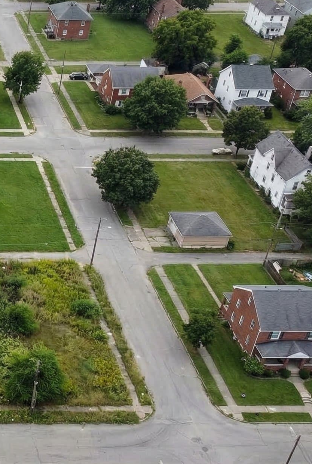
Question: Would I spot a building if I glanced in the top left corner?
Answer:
Yes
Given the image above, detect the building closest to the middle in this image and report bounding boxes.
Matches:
[168,213,233,247]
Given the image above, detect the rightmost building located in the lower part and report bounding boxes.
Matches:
[217,279,312,376]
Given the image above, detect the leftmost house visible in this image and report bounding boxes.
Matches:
[42,0,94,38]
